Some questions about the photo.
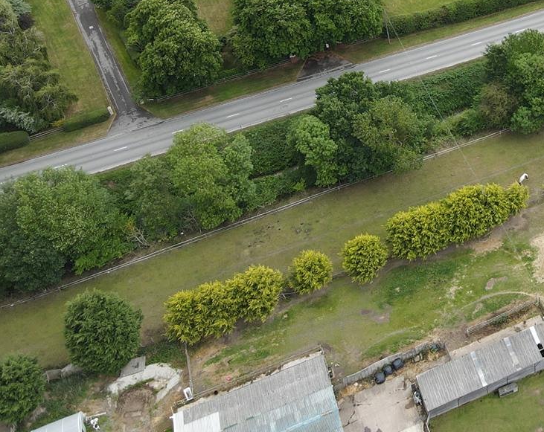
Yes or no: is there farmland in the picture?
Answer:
Yes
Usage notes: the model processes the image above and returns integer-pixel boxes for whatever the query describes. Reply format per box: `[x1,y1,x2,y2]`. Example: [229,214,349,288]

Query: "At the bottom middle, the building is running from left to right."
[169,358,344,432]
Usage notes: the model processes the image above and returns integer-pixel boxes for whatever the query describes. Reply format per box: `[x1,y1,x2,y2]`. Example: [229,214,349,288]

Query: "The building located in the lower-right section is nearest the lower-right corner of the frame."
[416,322,544,420]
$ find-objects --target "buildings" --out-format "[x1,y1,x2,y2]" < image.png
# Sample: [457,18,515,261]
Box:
[169,358,344,432]
[38,408,90,432]
[416,322,544,420]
